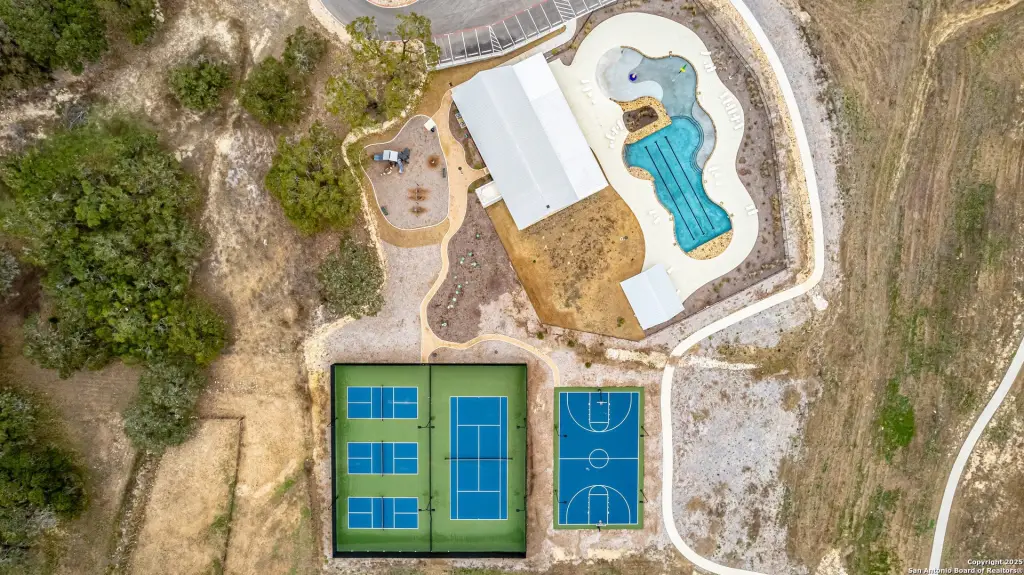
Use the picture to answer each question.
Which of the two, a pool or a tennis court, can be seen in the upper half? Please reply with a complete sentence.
The one visible in the upper half is a pool.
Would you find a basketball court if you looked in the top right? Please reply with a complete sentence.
No, the scene shows no basketball court in the top right.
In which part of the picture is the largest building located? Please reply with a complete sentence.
Look in the top portion of the view to spot the largest building.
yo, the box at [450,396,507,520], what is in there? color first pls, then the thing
blue tennis court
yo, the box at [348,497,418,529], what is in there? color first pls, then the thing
blue sports court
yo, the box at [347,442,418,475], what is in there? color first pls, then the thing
blue sports court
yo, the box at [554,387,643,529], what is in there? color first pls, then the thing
blue basketball court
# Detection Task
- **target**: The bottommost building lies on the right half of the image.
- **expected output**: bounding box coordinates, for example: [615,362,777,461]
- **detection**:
[620,264,684,330]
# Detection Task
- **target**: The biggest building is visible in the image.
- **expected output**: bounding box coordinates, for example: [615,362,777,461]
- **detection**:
[450,52,609,230]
